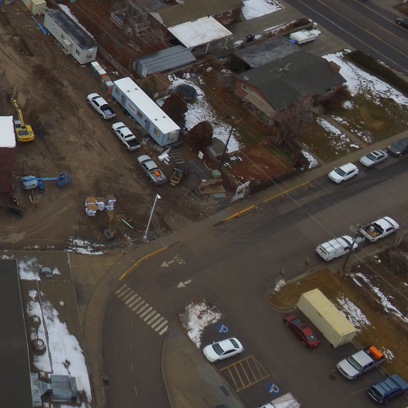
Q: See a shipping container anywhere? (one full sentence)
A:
Yes, there's a shipping container down there.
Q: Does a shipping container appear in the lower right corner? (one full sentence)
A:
Yes, you'll find a shipping container in the lower right corner.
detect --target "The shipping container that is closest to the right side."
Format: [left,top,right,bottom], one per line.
[296,289,357,351]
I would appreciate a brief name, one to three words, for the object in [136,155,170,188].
truck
